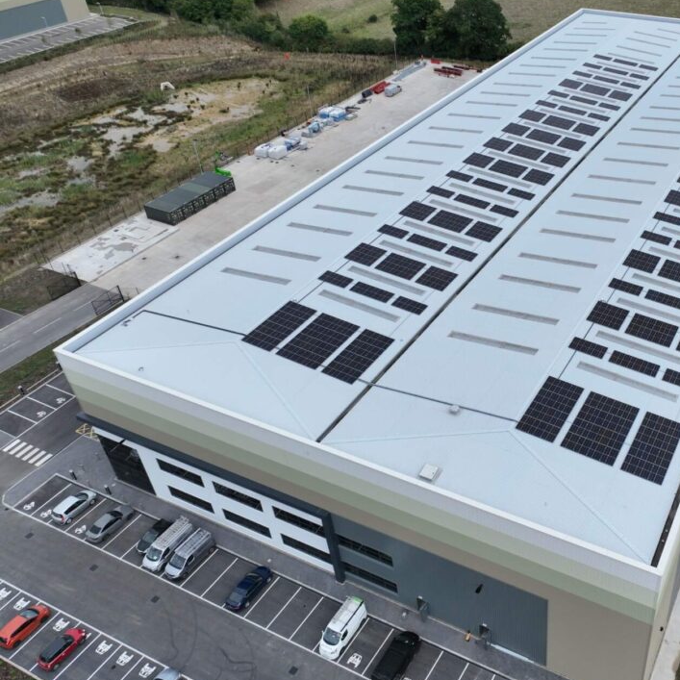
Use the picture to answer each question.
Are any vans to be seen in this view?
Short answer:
Yes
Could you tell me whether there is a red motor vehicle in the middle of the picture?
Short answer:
No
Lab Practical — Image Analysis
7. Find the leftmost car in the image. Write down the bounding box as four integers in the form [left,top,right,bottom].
[0,601,51,653]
